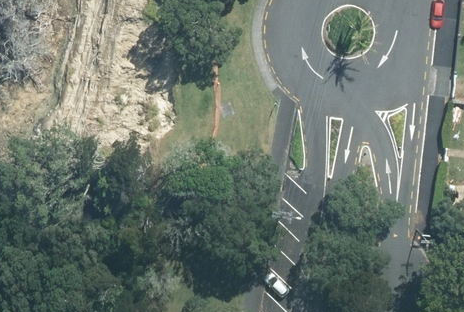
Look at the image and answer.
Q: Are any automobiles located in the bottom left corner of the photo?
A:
No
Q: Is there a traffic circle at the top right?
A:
Yes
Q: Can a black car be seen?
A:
No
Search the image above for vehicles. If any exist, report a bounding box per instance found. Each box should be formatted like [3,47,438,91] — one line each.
[266,274,291,298]
[430,0,445,29]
